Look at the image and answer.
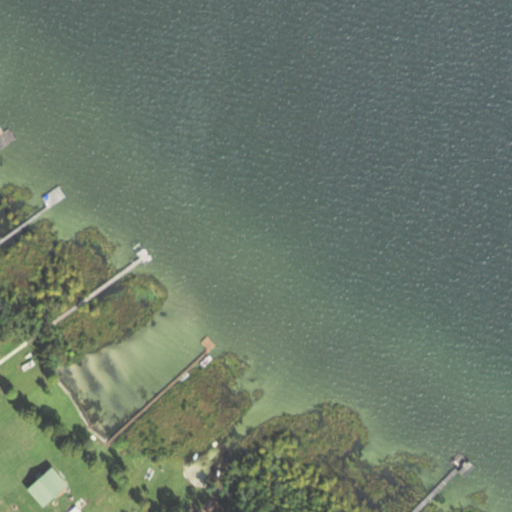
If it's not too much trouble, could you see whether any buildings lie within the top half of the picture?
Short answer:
No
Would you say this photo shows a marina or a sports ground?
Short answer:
marina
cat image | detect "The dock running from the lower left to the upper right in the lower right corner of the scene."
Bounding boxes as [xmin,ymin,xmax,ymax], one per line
[410,461,475,512]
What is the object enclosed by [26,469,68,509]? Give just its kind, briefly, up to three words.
house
